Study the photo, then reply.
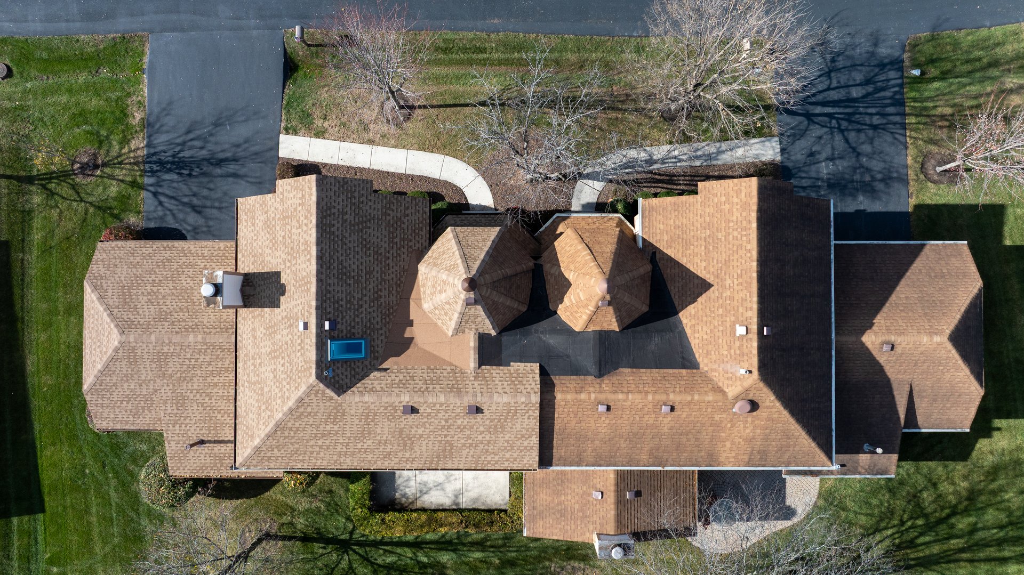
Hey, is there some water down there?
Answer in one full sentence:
No, there is no water in the image.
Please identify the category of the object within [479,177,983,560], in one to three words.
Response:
house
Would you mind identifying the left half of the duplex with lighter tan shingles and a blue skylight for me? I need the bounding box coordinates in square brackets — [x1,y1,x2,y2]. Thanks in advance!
[83,174,540,479]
